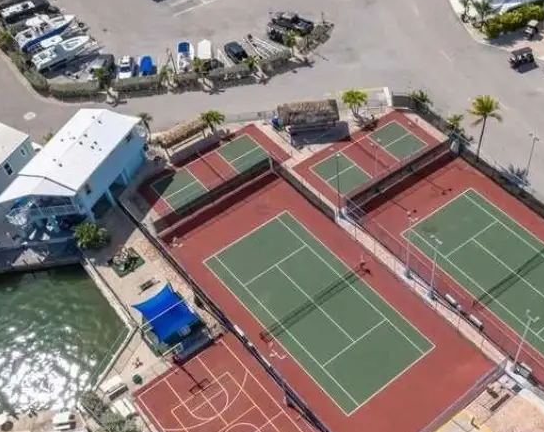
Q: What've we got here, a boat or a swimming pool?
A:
boat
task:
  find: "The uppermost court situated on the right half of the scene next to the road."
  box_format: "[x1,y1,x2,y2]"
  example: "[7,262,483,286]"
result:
[293,107,438,209]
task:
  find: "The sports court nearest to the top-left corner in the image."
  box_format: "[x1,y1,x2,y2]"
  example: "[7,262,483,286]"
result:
[126,124,294,233]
